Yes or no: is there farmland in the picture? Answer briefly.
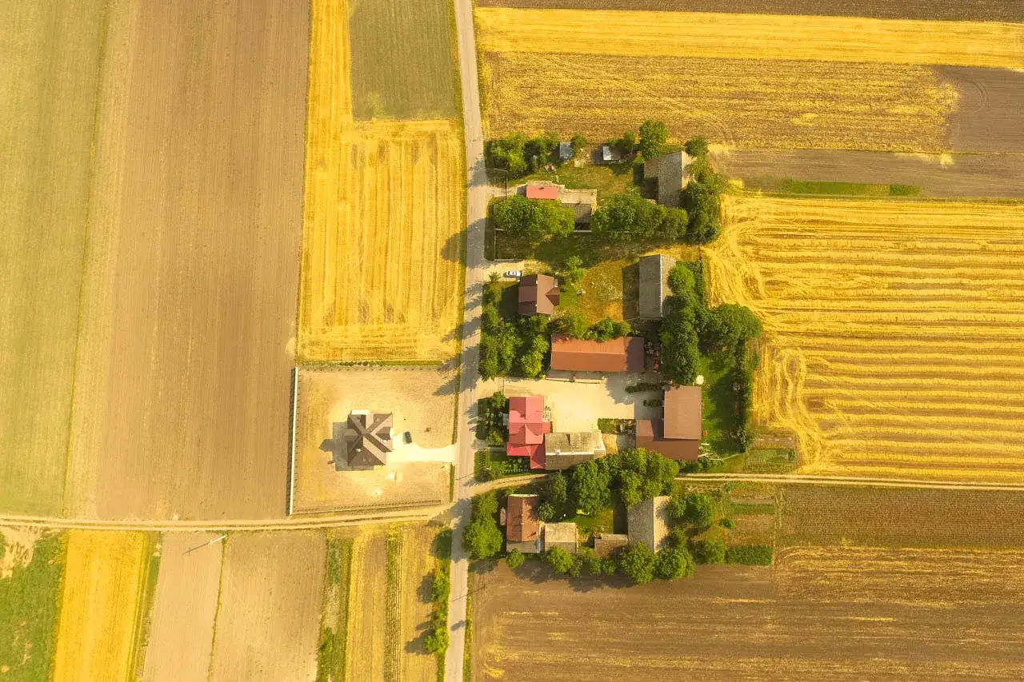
Yes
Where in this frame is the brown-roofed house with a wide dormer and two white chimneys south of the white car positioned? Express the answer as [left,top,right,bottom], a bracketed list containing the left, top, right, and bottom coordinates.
[518,275,559,315]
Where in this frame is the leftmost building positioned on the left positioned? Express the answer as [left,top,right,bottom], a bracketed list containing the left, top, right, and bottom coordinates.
[342,410,392,465]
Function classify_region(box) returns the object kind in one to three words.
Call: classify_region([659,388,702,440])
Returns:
barn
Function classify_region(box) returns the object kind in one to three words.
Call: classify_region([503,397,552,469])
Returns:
house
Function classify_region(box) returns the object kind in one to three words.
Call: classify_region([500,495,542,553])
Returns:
house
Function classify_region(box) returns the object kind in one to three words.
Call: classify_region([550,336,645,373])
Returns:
barn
